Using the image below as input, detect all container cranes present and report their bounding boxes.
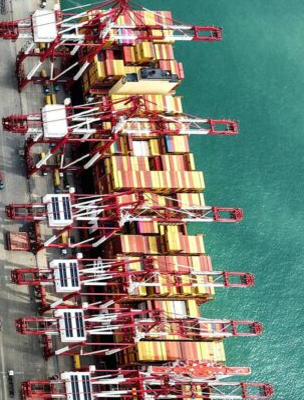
[0,0,226,95]
[0,97,244,184]
[13,301,267,369]
[8,252,258,323]
[2,188,245,265]
[19,358,279,400]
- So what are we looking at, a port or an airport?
port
